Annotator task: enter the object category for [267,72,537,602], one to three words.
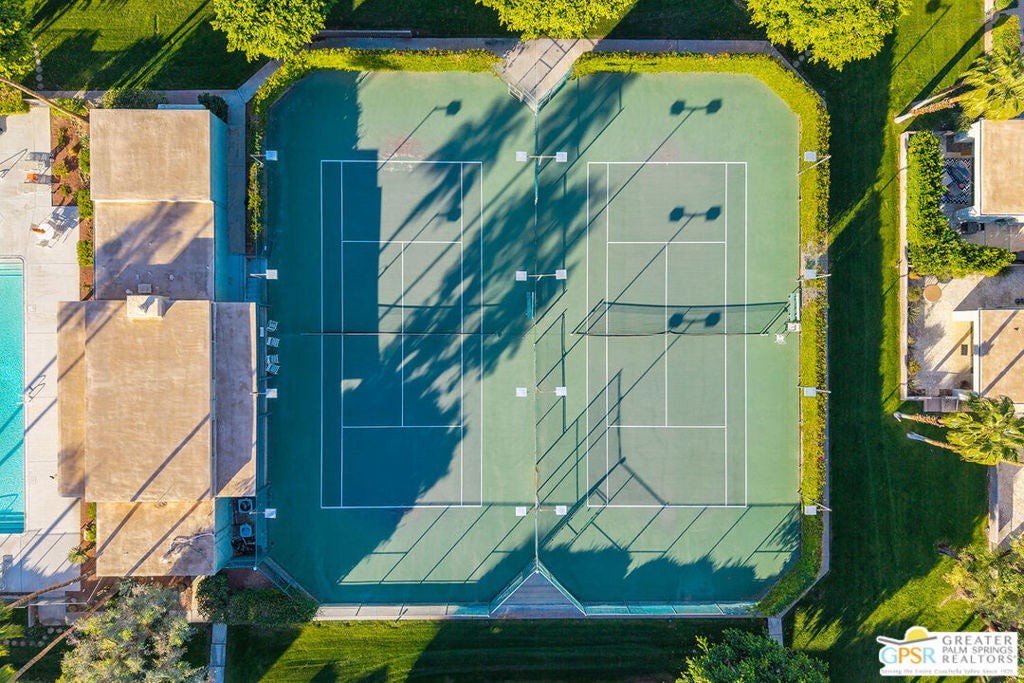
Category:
tennis court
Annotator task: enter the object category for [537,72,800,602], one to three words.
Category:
tennis court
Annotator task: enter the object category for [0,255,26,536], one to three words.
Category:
swimming pool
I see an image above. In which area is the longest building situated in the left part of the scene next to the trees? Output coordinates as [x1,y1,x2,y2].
[57,110,257,576]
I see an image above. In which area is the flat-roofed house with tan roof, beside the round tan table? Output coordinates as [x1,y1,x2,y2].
[948,310,1024,405]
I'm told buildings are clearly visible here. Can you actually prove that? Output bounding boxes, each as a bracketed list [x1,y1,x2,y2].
[57,110,257,576]
[953,130,1024,219]
[948,310,1024,405]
